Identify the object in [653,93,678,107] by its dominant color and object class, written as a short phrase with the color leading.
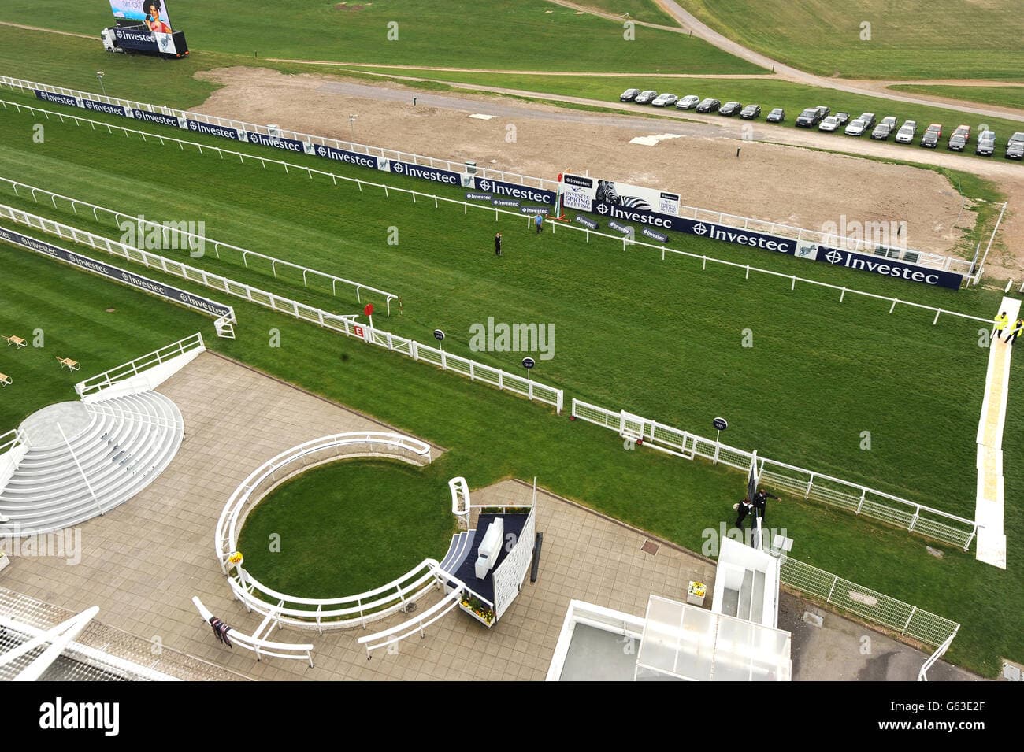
white car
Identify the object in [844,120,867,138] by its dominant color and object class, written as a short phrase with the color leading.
white car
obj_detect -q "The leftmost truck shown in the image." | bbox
[103,25,189,56]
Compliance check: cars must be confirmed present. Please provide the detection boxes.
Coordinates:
[861,111,880,130]
[637,90,660,104]
[719,99,744,116]
[920,130,942,149]
[931,119,952,138]
[819,115,843,133]
[1002,140,1024,161]
[678,95,702,110]
[945,133,969,153]
[622,87,646,101]
[740,104,763,121]
[972,137,997,157]
[1005,129,1024,143]
[894,125,917,145]
[906,116,926,134]
[798,106,824,128]
[957,121,979,141]
[844,120,867,138]
[768,107,789,124]
[885,114,906,133]
[980,122,1003,147]
[697,98,721,114]
[653,93,678,107]
[871,122,892,141]
[837,110,856,125]
[823,102,841,119]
